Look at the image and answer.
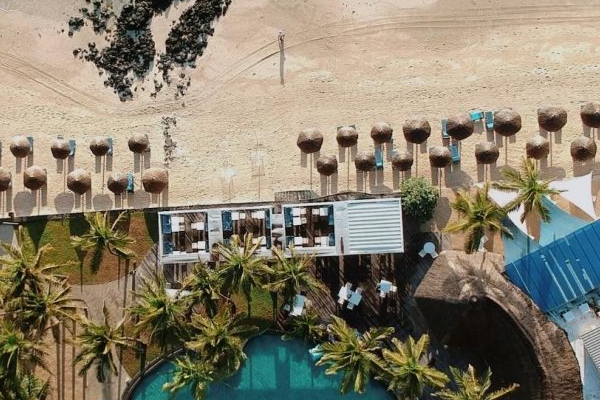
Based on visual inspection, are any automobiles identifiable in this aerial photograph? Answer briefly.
No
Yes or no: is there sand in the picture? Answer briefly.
Yes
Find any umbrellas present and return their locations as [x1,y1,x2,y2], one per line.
[494,108,521,136]
[371,122,392,143]
[316,156,336,175]
[475,140,498,164]
[25,166,47,189]
[445,113,472,140]
[569,136,595,161]
[108,174,128,193]
[143,169,167,193]
[68,170,91,192]
[429,147,450,168]
[11,137,31,156]
[579,101,600,130]
[298,129,323,153]
[537,105,566,134]
[128,133,150,154]
[524,135,548,158]
[336,127,358,148]
[52,139,71,157]
[391,151,412,172]
[403,117,431,144]
[0,167,11,191]
[91,136,110,155]
[355,152,375,171]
